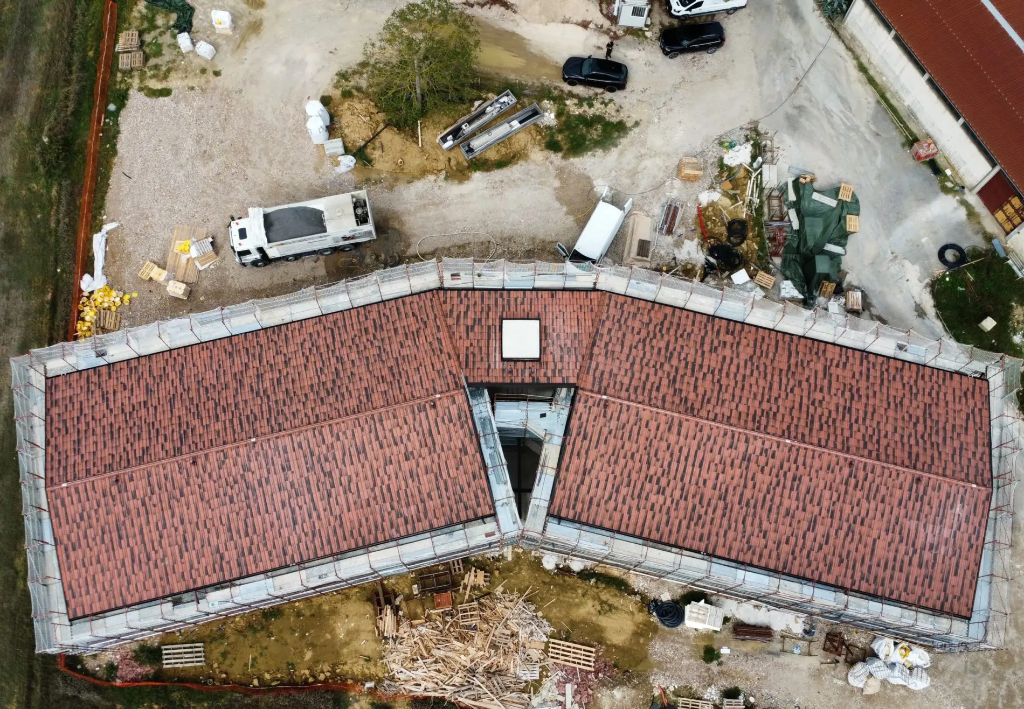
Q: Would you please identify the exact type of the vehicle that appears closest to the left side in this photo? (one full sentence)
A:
What you see as the vehicle that appears closest to the left side is a truck.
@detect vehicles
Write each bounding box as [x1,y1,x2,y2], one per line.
[562,191,630,276]
[224,189,377,268]
[667,0,752,19]
[560,53,630,93]
[657,19,727,59]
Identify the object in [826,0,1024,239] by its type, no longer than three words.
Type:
barn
